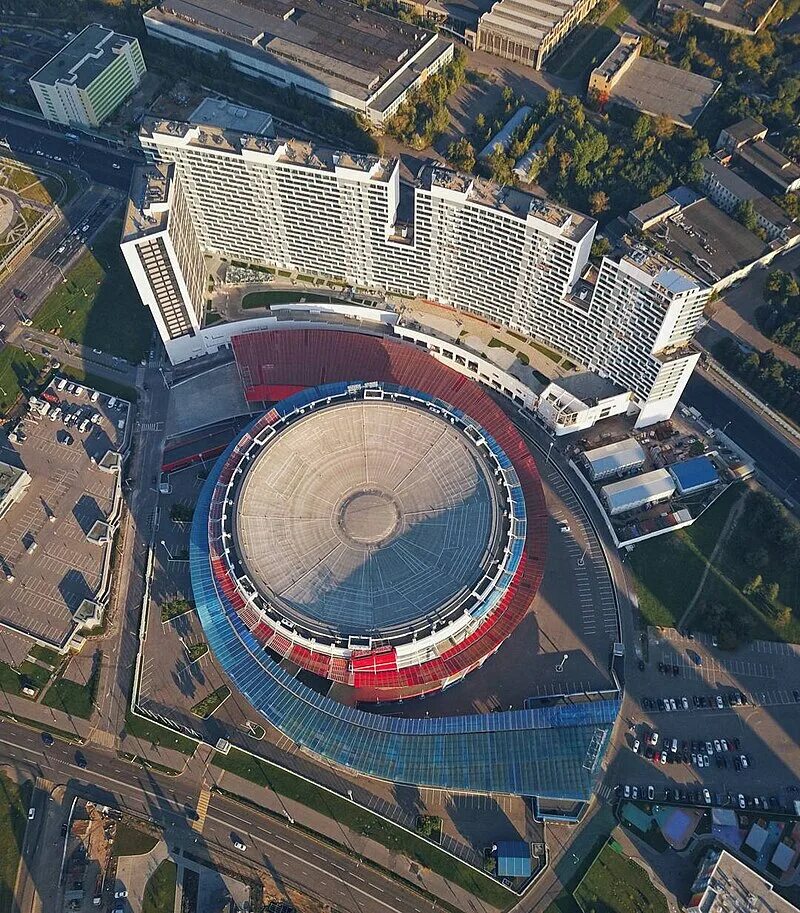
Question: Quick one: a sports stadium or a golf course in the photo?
sports stadium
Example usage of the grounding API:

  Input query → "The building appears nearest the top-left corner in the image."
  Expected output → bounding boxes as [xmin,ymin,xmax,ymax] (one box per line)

[29,22,147,138]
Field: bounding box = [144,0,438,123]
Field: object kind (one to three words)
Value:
warehouse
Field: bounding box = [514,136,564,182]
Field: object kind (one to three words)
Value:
hangar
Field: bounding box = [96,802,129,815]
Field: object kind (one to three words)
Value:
vehicle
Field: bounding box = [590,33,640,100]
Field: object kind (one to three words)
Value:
building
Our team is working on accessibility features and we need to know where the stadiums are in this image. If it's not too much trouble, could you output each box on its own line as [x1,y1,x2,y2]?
[190,328,612,793]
